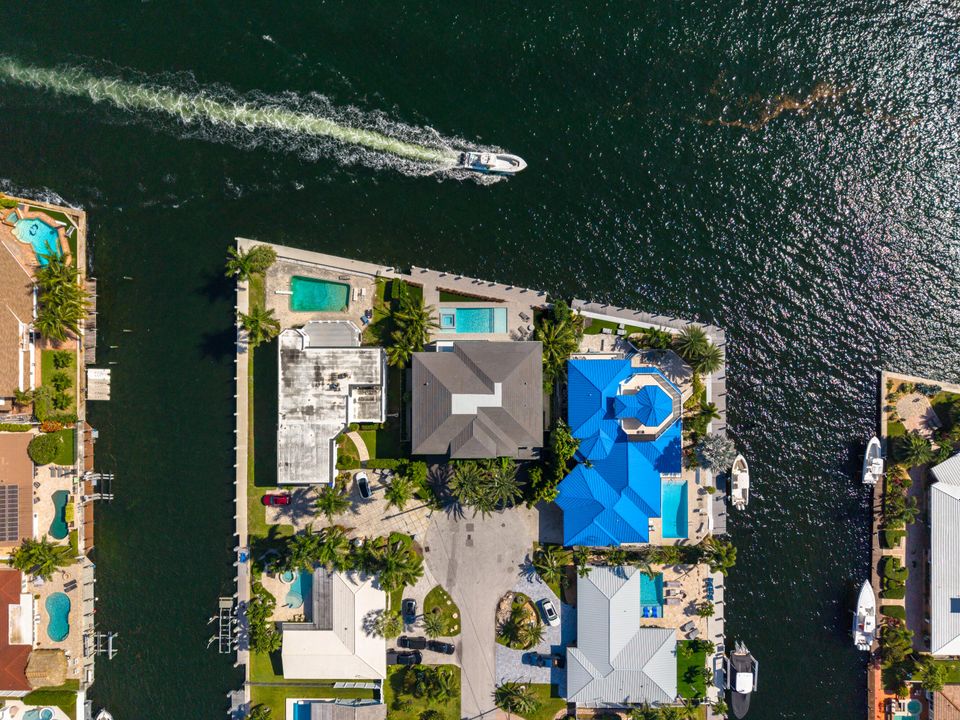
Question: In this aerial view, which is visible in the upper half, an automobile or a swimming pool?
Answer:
swimming pool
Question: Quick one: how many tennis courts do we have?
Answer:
zero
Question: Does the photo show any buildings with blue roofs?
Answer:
Yes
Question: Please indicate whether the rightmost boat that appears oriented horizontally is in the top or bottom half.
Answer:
top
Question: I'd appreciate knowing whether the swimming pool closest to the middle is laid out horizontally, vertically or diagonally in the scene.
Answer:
horizontally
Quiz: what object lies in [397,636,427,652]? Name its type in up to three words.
car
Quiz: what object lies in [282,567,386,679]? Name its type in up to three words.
house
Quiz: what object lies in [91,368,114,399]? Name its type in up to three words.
pier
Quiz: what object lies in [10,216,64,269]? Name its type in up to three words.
swimming pool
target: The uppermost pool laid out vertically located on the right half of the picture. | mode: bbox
[660,478,689,540]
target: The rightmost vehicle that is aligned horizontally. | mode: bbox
[524,652,562,668]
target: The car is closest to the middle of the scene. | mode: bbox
[354,470,371,500]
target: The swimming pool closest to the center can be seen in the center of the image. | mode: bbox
[439,307,508,334]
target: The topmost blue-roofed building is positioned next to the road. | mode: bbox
[556,349,692,546]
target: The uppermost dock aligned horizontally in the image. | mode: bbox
[411,266,548,294]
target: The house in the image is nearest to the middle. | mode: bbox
[412,339,543,459]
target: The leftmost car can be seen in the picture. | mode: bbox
[262,493,290,508]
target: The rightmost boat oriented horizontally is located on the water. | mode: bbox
[460,152,528,172]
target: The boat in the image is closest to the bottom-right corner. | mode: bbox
[852,578,877,652]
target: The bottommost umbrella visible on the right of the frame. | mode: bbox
[678,562,694,578]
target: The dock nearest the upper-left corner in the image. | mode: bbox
[86,279,101,364]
